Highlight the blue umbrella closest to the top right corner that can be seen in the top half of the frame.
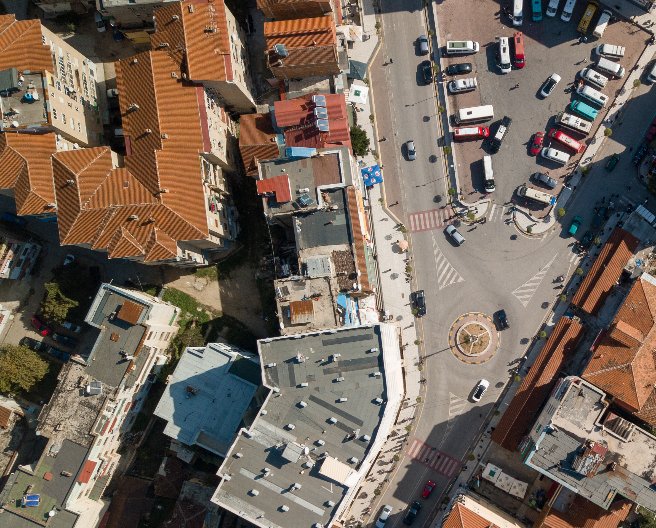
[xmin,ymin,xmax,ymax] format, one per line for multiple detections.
[360,165,384,187]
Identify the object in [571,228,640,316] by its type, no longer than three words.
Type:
building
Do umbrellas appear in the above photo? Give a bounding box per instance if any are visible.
[347,84,370,105]
[360,165,384,187]
[346,25,363,44]
[359,294,375,310]
[346,59,369,82]
[480,461,500,482]
[336,26,347,34]
[494,470,516,493]
[509,480,529,500]
[359,306,379,325]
